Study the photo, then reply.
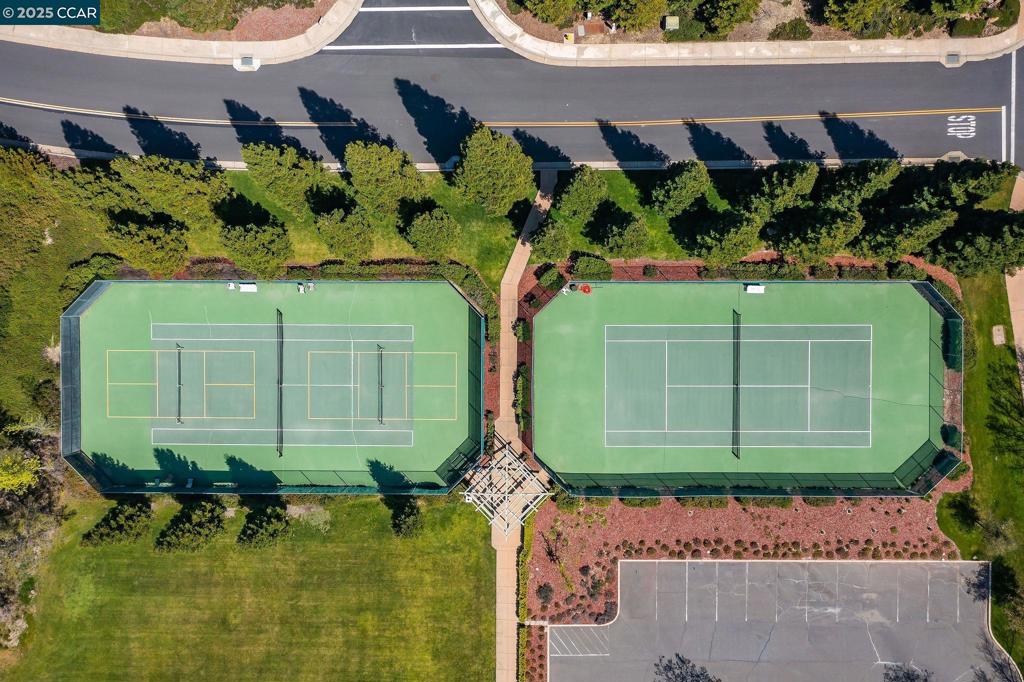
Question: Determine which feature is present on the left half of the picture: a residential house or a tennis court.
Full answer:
Looking on the left half of the picture, you will find a tennis court.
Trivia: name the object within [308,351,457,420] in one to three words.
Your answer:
sports court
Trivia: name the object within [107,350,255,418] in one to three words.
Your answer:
sports court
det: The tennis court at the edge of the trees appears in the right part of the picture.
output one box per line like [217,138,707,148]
[534,284,943,489]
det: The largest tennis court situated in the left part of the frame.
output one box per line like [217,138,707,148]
[80,283,484,488]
